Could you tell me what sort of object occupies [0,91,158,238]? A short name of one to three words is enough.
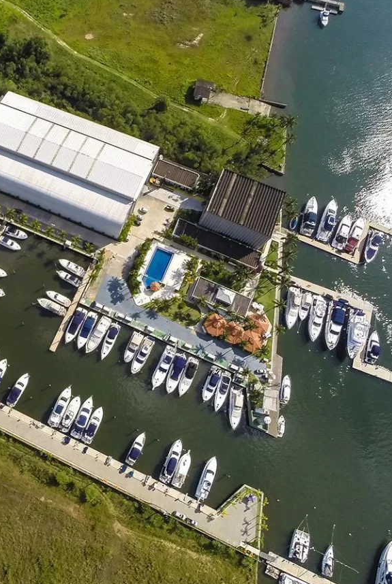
warehouse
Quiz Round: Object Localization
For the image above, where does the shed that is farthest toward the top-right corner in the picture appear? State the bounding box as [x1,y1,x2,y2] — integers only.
[193,79,215,102]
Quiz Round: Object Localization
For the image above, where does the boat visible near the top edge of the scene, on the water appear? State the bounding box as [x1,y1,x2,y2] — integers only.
[317,6,333,27]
